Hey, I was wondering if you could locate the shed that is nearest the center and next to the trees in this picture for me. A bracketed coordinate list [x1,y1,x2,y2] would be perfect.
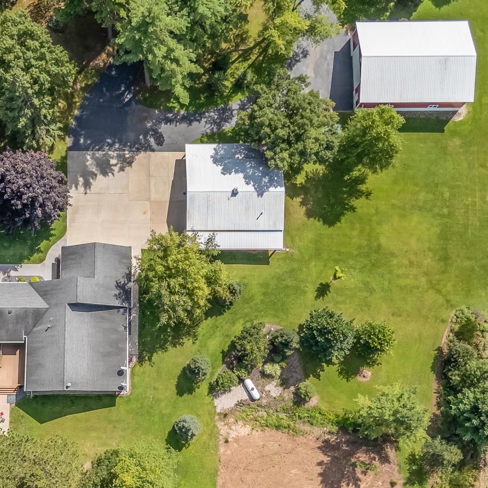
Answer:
[184,145,284,253]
